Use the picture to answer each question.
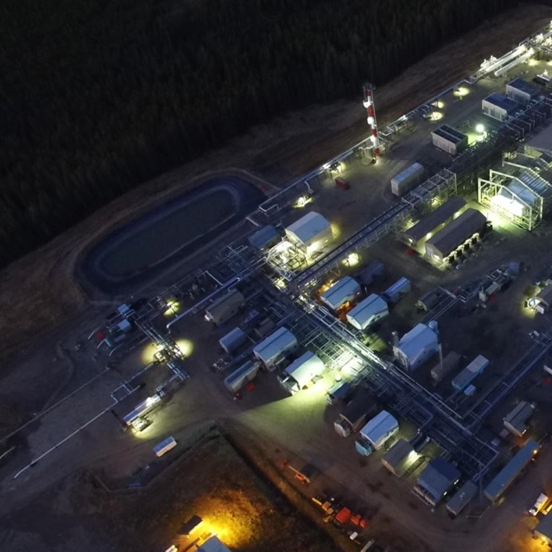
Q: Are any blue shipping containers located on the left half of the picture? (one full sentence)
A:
No, looking on the left half of the picture, there is no blue shipping container.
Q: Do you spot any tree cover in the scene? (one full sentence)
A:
Yes, tree cover shows up in the scene.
